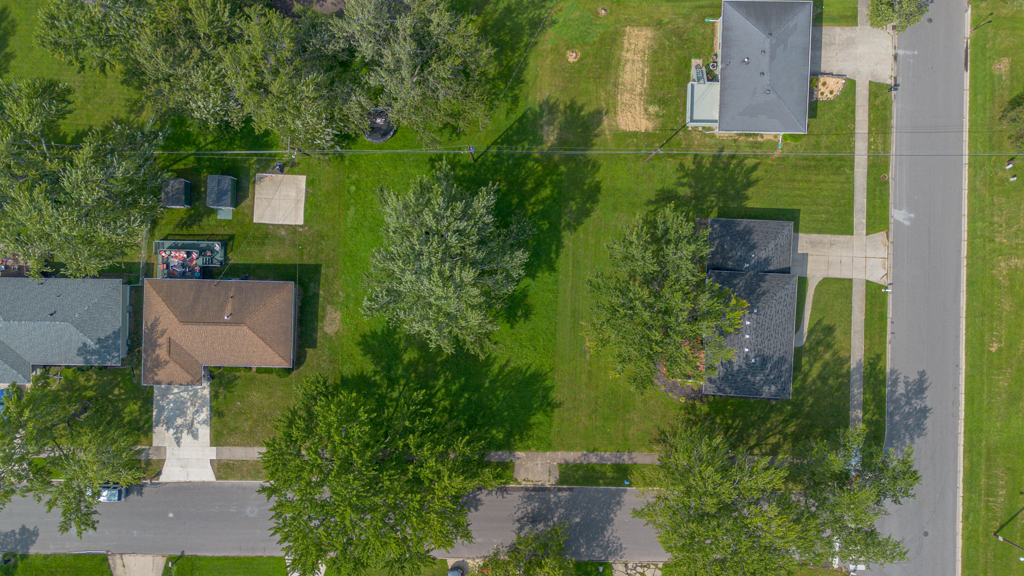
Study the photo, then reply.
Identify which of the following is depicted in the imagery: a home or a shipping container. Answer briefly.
home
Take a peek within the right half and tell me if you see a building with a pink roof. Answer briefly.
No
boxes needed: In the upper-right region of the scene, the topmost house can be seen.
[713,0,813,136]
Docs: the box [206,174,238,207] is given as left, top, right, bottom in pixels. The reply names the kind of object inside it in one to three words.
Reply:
shed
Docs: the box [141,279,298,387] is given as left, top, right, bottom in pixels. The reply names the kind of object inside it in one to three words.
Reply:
house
